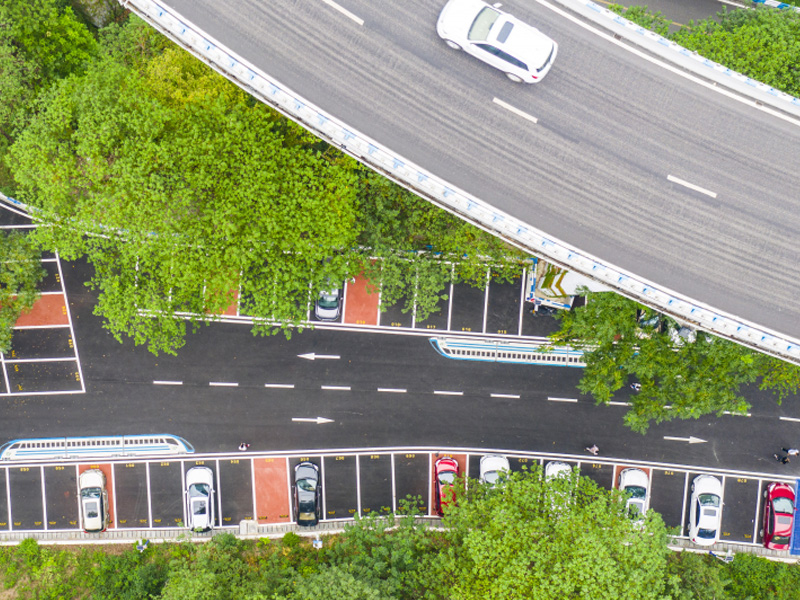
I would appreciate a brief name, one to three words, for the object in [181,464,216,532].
car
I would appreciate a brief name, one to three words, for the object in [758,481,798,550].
car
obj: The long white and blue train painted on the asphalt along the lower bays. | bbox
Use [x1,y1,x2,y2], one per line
[0,430,194,462]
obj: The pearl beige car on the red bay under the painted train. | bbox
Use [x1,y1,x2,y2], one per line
[73,466,111,532]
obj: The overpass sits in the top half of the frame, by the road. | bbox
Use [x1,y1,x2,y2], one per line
[119,0,800,367]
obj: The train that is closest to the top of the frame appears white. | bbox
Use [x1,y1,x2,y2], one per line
[430,338,617,374]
